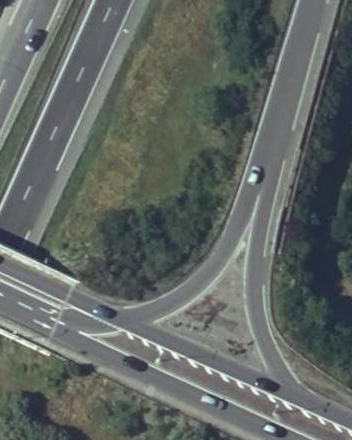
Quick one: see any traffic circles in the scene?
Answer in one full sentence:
No, I find no traffic circle anywhere in the image.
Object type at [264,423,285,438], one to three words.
car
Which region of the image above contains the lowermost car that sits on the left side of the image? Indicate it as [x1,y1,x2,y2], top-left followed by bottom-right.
[124,356,145,372]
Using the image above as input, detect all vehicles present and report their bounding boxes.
[256,378,278,393]
[248,164,262,186]
[27,30,42,51]
[202,394,223,410]
[124,356,145,372]
[93,304,114,320]
[264,423,285,438]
